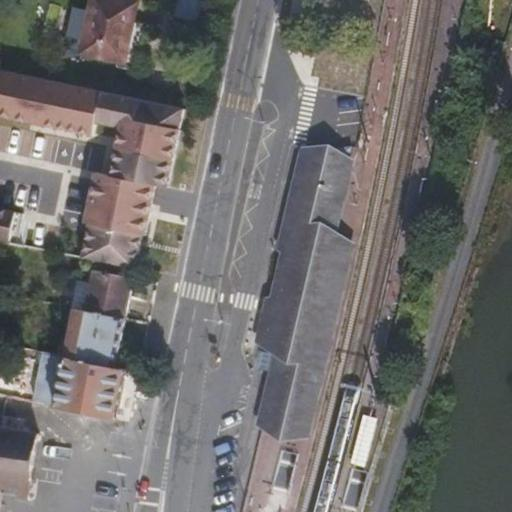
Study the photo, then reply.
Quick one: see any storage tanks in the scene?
No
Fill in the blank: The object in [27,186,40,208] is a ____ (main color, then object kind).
gray vehicle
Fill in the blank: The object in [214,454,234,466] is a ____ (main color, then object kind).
gray vehicle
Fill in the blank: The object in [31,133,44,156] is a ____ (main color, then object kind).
white vehicle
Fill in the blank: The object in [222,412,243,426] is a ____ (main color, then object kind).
white vehicle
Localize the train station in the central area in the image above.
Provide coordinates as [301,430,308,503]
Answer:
[255,144,354,440]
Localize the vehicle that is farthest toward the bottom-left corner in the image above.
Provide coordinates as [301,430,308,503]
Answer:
[43,446,72,460]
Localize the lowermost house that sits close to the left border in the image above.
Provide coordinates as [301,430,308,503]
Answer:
[0,426,36,500]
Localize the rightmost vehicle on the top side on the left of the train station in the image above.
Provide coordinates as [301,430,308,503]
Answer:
[209,154,222,176]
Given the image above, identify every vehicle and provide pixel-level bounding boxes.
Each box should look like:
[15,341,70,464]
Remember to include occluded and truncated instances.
[96,484,118,497]
[14,184,26,206]
[336,96,359,108]
[0,182,12,205]
[43,446,72,460]
[62,198,82,210]
[214,442,237,455]
[8,130,21,152]
[222,412,243,426]
[214,478,236,491]
[212,492,234,505]
[33,224,44,245]
[64,184,85,196]
[138,478,148,499]
[209,154,222,176]
[214,454,234,466]
[214,466,234,478]
[31,133,44,156]
[214,506,236,512]
[27,186,40,208]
